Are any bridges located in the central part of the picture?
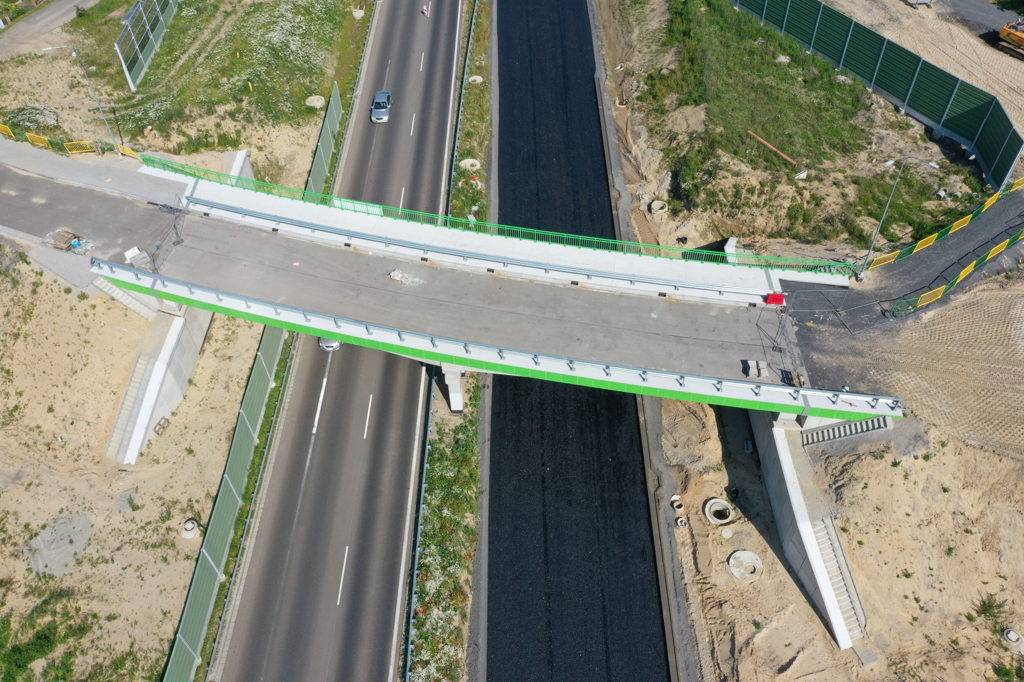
Yes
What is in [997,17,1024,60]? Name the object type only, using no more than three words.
work vehicle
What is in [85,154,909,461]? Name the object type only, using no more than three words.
bridge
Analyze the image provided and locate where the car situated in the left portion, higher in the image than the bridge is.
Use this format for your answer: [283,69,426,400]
[368,88,390,119]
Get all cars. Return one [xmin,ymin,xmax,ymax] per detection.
[368,88,390,119]
[320,338,345,354]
